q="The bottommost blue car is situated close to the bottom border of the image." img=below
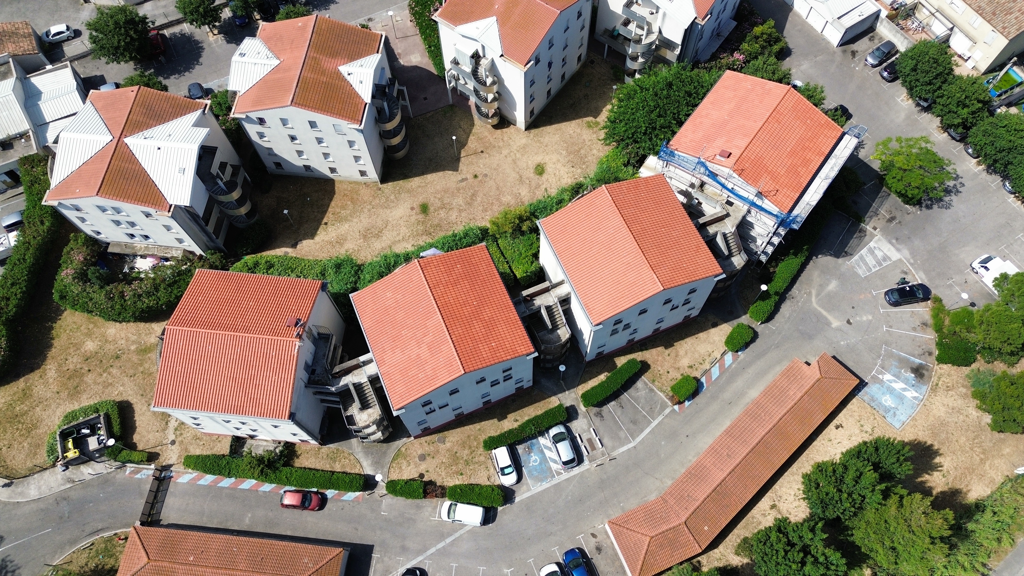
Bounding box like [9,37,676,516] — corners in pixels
[565,548,592,576]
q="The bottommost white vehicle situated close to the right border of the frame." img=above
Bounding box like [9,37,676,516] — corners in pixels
[965,255,1024,288]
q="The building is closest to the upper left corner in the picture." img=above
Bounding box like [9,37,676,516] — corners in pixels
[0,13,51,76]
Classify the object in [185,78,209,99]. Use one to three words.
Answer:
car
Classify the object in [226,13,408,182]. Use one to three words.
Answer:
house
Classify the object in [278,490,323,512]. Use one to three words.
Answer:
car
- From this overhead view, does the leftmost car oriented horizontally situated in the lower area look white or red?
red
